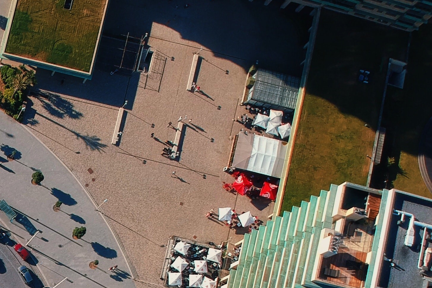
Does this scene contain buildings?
Yes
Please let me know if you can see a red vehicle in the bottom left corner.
Yes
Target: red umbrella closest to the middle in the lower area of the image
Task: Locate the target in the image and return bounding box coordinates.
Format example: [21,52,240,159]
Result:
[231,170,254,190]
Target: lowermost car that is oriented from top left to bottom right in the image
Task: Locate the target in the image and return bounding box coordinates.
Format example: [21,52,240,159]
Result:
[16,265,33,286]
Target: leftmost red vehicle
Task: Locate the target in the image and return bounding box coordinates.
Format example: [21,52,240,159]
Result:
[14,243,30,262]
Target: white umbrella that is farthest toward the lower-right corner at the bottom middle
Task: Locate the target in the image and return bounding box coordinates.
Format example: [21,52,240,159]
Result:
[238,209,257,228]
